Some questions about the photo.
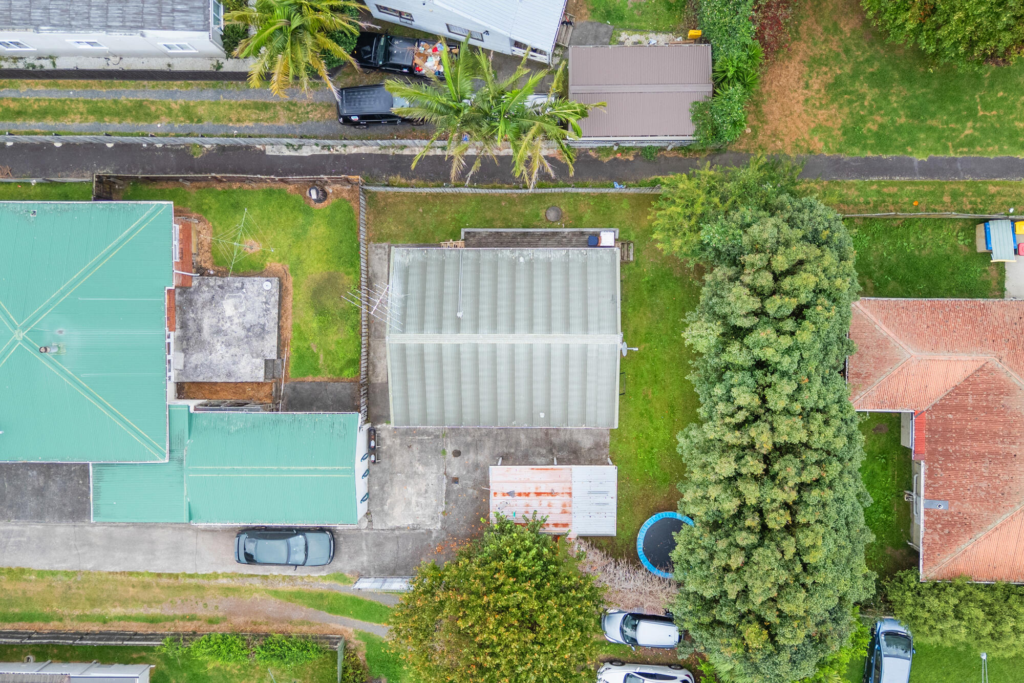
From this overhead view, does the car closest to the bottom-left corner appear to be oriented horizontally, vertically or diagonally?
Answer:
horizontally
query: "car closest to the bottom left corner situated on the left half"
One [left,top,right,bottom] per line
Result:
[233,526,338,572]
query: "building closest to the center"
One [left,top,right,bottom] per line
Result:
[388,245,623,430]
